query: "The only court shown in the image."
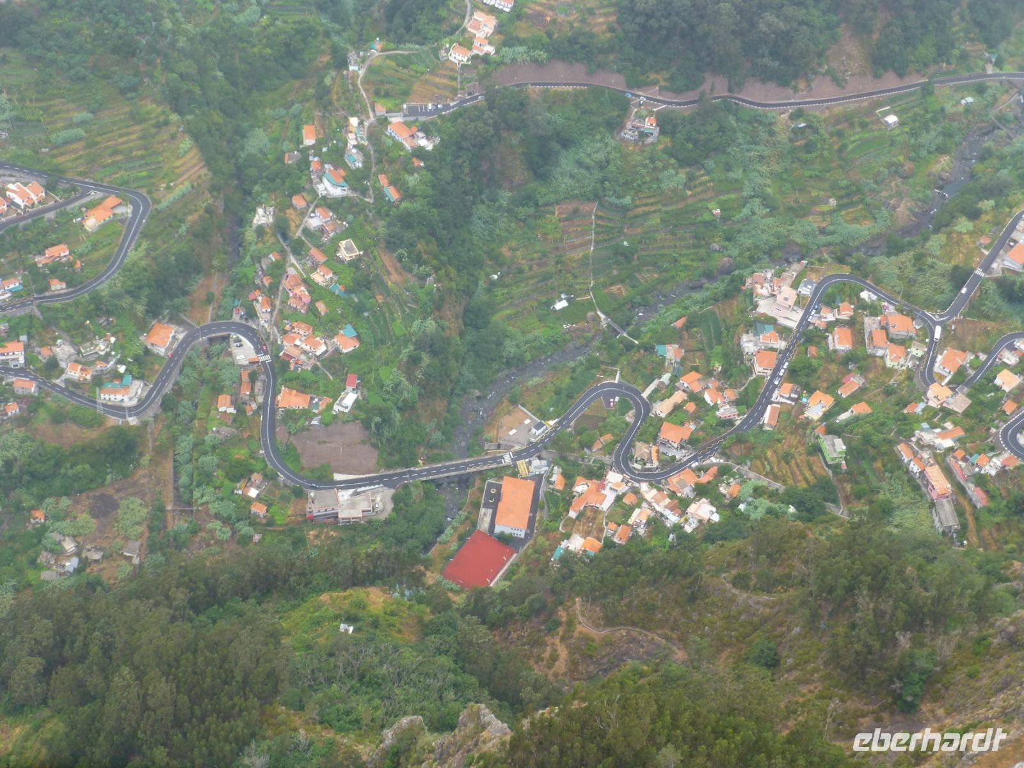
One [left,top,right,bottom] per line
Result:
[443,535,516,585]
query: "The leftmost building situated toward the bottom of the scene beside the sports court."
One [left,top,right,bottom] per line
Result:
[494,476,540,537]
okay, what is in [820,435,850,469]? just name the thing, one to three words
building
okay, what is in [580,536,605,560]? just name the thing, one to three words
house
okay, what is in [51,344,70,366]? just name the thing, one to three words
shed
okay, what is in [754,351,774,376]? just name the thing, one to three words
house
